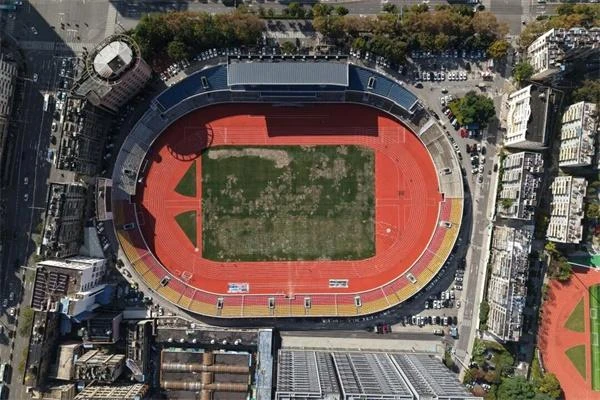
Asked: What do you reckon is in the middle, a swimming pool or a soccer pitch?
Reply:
soccer pitch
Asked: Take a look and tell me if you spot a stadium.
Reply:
Yes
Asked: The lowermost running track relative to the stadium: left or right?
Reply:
right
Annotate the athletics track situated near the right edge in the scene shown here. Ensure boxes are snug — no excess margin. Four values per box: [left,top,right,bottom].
[537,269,600,400]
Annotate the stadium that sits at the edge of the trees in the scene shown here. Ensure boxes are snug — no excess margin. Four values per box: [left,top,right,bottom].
[111,56,463,320]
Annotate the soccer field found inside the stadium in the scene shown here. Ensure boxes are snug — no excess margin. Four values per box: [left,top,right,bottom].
[202,146,375,262]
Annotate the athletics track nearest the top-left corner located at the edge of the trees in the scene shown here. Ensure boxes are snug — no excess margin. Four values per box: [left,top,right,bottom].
[136,100,440,296]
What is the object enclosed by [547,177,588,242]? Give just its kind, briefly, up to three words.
building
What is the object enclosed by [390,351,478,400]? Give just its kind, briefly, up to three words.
building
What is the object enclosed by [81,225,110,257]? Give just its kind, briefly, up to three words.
shed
